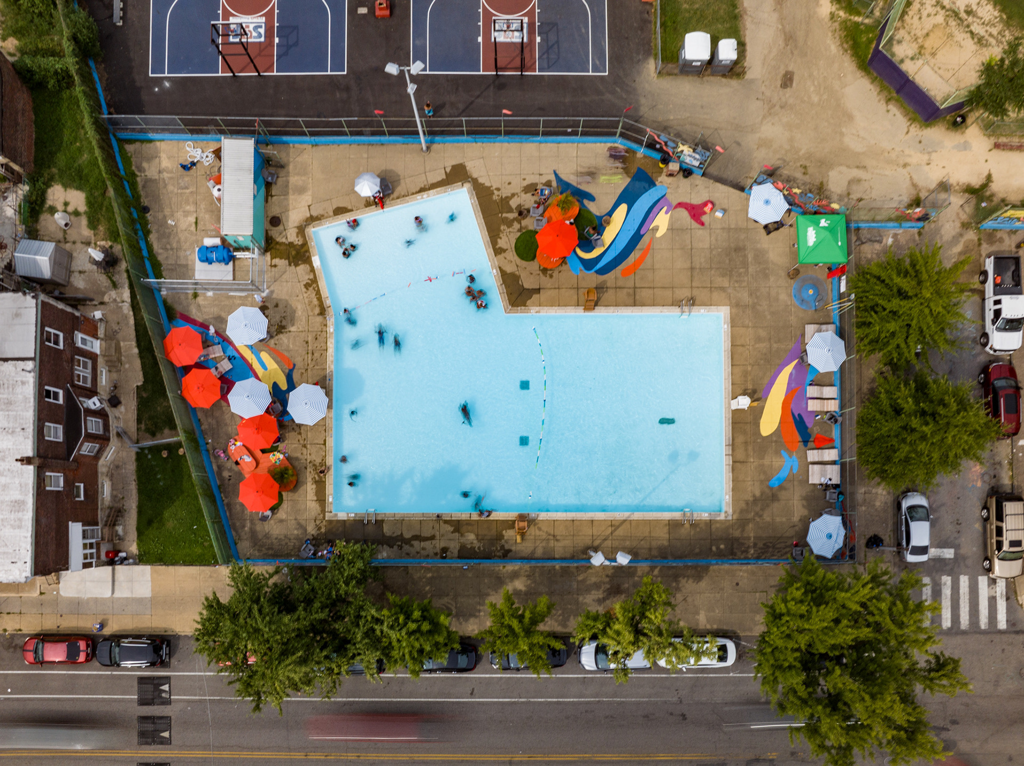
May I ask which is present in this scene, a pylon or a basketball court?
basketball court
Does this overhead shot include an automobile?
Yes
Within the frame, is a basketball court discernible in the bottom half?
No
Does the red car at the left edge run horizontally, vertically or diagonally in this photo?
horizontally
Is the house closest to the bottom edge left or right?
left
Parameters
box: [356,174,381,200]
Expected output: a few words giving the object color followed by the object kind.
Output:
white umbrella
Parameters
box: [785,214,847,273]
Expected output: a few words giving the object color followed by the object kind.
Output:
green gazebo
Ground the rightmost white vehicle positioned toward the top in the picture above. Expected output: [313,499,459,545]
[980,258,1024,354]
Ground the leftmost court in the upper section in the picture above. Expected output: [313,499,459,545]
[149,0,348,75]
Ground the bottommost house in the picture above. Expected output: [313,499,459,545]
[0,360,118,587]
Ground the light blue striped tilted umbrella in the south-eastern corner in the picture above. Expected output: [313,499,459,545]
[805,516,840,554]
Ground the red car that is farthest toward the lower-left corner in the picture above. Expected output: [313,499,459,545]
[26,633,100,668]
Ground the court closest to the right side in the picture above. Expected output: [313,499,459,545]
[411,0,608,74]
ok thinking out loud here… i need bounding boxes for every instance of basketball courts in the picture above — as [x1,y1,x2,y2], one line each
[149,0,348,75]
[411,0,608,74]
